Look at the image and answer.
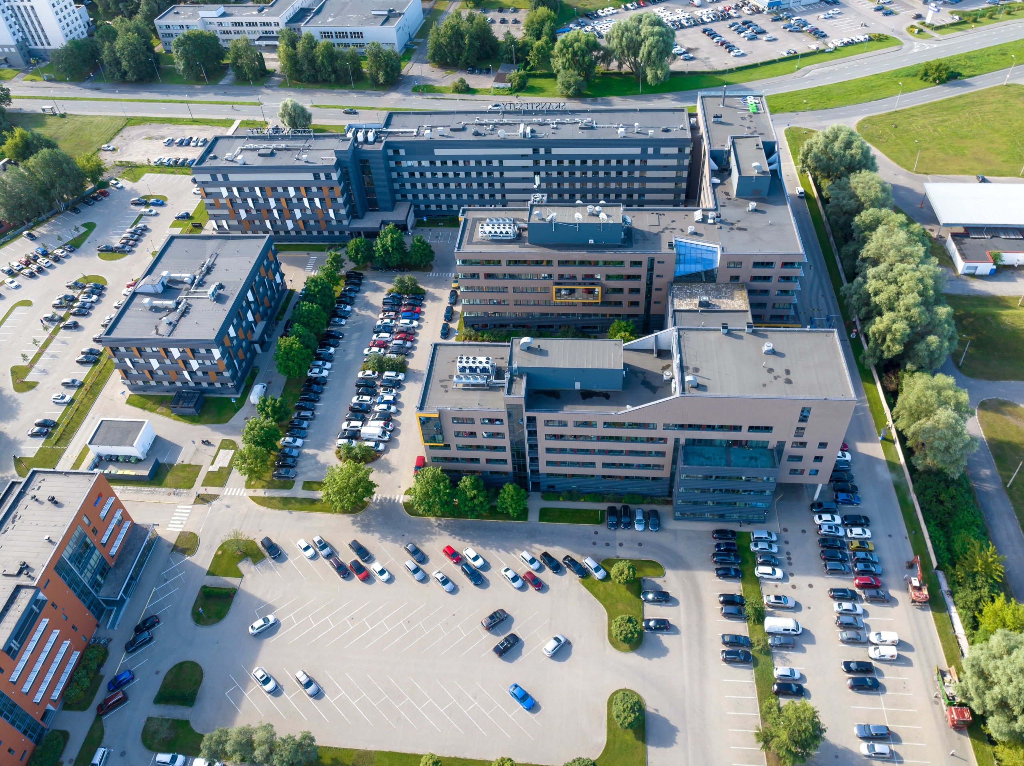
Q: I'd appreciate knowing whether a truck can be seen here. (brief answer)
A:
Yes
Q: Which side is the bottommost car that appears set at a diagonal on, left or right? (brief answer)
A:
left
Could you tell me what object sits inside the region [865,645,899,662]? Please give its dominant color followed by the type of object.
white vehicle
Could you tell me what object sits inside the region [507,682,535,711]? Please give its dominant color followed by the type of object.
blue car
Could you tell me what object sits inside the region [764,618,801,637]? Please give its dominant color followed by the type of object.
white vehicle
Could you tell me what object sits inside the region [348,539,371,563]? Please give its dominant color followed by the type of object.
blue car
